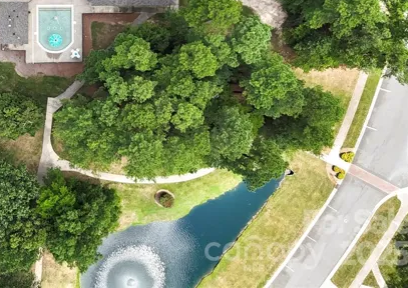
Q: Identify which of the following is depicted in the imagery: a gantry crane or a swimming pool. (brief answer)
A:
swimming pool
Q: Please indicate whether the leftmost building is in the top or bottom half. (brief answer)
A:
top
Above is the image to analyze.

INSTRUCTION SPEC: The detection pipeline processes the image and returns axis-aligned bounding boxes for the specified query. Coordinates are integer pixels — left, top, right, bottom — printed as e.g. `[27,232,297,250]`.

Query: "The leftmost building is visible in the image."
[1,2,28,43]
